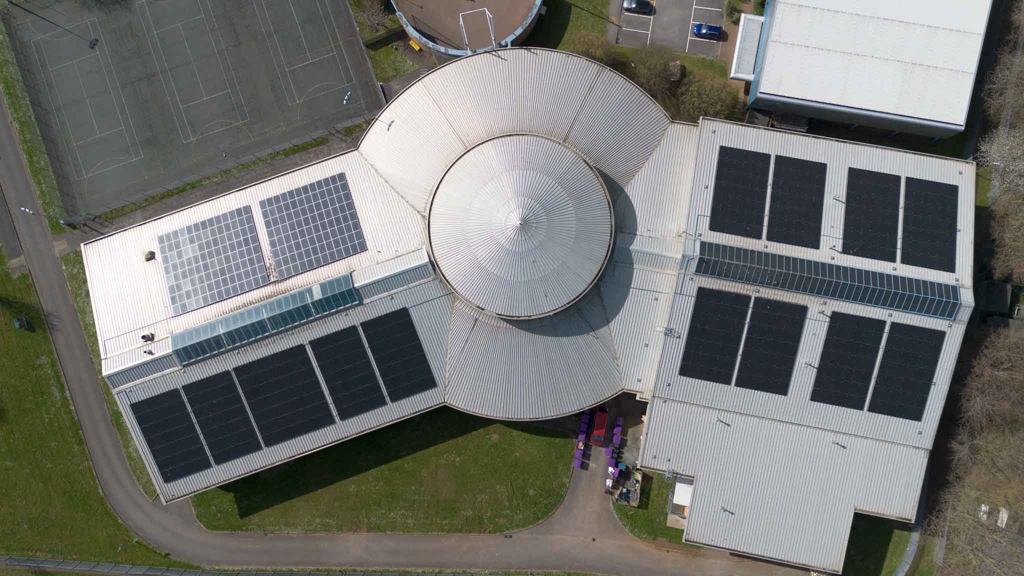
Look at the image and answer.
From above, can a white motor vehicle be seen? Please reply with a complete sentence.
No, there appears to be no white motor vehicle in this shot.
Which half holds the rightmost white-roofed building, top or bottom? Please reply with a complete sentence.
The rightmost white-roofed building sits in the top half of the picture.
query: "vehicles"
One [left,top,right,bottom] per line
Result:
[592,408,609,443]
[624,0,654,13]
[694,24,722,40]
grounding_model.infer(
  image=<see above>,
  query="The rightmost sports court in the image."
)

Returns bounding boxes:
[393,0,536,49]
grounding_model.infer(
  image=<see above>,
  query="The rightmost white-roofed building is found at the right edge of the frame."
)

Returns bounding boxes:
[725,0,989,145]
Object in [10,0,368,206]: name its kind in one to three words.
sports court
